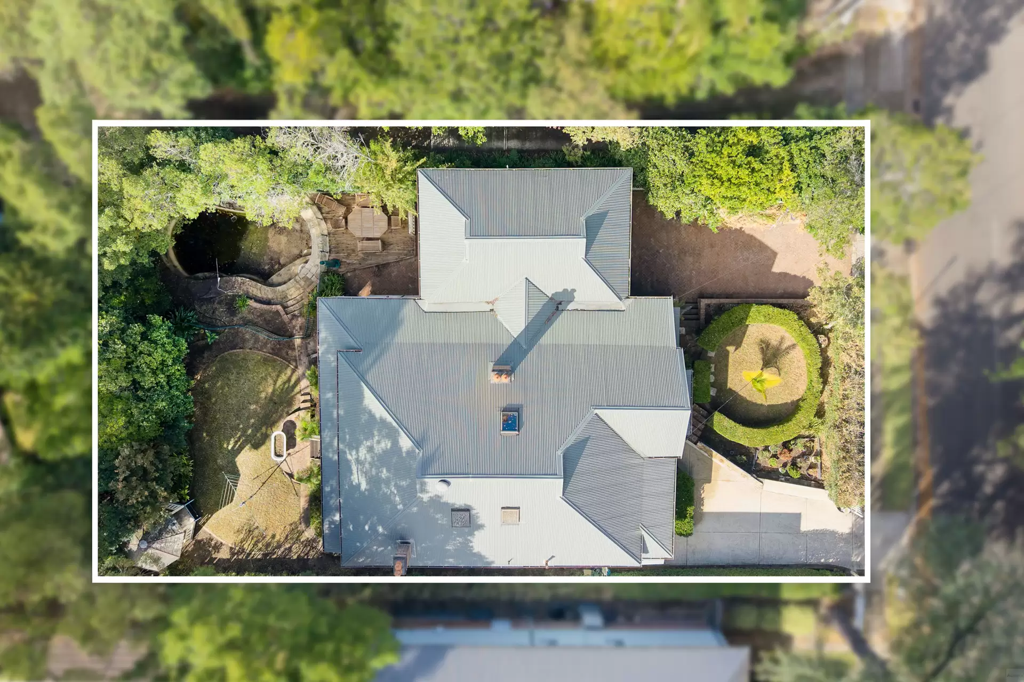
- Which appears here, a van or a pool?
pool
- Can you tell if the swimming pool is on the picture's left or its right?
left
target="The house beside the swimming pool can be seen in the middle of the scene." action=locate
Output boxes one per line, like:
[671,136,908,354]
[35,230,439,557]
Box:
[311,134,696,579]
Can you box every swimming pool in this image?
[166,202,322,289]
